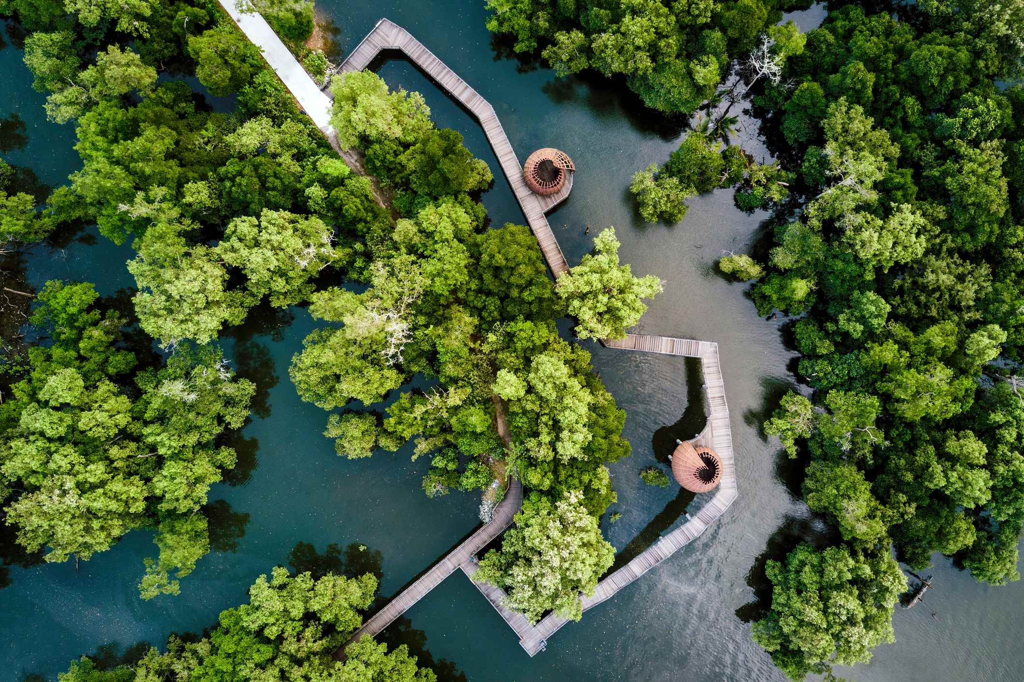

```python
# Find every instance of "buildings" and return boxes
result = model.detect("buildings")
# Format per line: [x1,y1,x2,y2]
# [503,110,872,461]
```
[675,441,729,496]
[524,144,576,194]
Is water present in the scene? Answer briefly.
Yes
